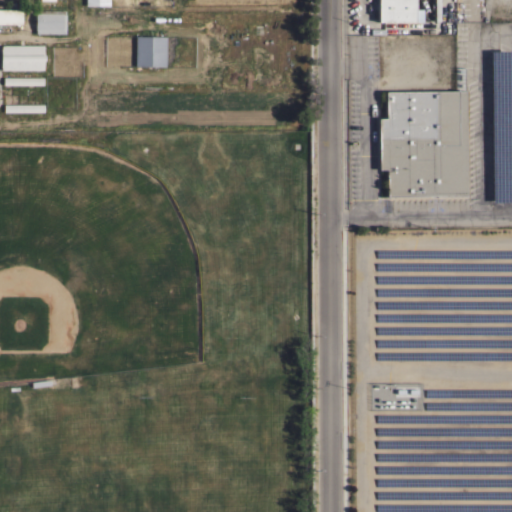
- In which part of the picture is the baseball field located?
left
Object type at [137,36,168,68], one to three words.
barn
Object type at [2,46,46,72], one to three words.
barn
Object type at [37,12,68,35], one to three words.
shed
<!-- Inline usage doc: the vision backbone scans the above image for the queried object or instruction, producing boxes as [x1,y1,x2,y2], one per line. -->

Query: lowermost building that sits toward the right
[381,92,468,196]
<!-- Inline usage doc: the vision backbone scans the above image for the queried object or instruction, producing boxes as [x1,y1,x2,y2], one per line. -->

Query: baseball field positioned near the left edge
[0,142,202,384]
